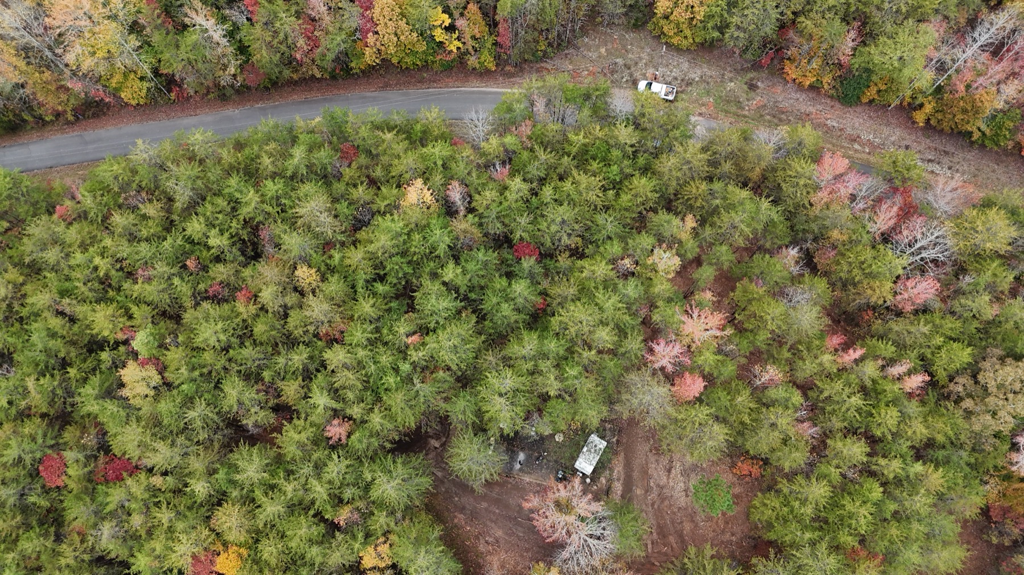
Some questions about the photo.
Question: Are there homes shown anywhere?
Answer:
No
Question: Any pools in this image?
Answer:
No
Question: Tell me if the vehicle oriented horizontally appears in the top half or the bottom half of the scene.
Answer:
top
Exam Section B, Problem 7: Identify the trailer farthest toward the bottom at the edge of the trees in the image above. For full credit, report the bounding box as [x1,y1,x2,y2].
[574,434,606,478]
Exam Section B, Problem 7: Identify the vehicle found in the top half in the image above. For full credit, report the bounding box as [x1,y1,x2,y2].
[636,79,677,99]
